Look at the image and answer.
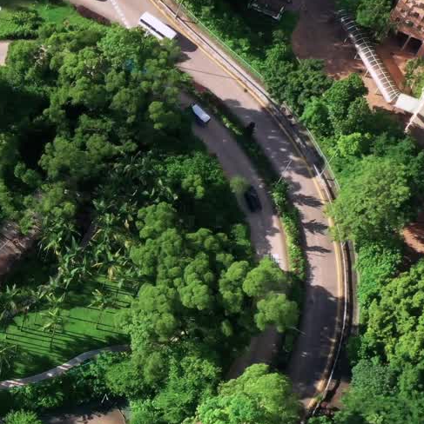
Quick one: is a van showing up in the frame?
Yes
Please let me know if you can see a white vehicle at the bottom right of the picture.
No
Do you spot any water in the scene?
No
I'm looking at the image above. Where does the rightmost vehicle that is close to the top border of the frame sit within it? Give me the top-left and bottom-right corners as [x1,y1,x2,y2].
[133,13,180,49]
